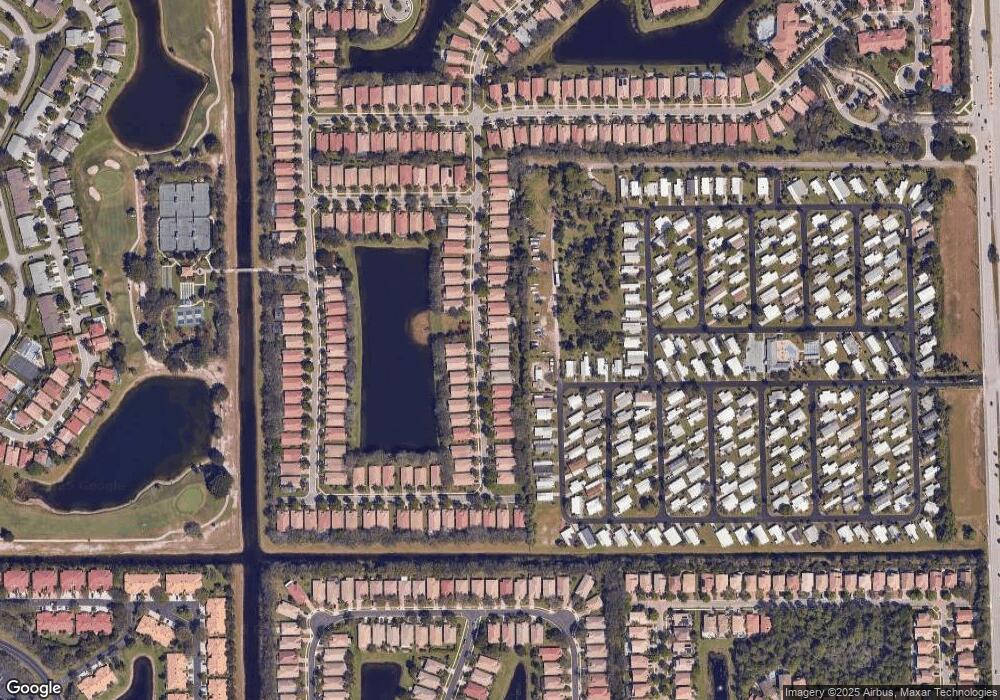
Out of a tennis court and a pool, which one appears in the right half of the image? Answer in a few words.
pool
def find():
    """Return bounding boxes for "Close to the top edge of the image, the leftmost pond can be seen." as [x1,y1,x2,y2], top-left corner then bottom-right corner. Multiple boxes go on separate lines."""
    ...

[348,0,462,72]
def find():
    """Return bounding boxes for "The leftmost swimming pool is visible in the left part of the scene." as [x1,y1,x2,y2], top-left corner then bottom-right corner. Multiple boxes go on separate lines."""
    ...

[24,341,45,368]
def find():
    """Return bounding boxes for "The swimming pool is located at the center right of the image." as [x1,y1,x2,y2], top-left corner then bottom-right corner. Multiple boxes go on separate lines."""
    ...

[776,340,800,363]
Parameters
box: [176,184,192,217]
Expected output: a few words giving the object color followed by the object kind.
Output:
gray tennis court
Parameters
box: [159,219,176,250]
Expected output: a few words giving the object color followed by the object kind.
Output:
gray tennis court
